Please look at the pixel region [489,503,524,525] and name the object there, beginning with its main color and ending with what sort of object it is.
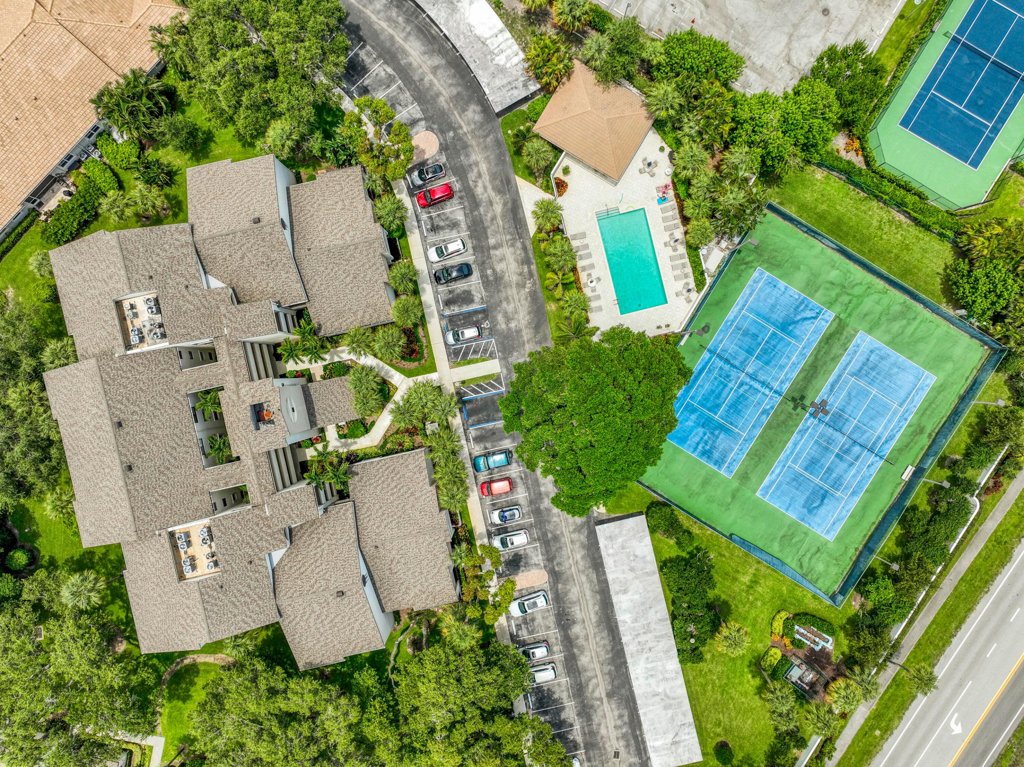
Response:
white car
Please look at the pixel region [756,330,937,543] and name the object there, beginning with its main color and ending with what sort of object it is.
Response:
blue tennis court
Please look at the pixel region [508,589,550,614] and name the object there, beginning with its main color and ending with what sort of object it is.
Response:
white car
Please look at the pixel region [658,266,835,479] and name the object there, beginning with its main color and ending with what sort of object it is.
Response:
blue tennis court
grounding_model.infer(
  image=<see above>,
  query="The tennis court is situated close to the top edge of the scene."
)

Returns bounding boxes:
[899,0,1024,172]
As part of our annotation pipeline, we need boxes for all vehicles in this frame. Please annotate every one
[417,185,456,210]
[489,503,524,525]
[491,526,531,550]
[520,659,558,683]
[478,476,515,497]
[508,589,550,614]
[446,325,484,346]
[514,636,553,659]
[434,263,474,286]
[411,163,448,188]
[428,239,468,263]
[474,449,513,471]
